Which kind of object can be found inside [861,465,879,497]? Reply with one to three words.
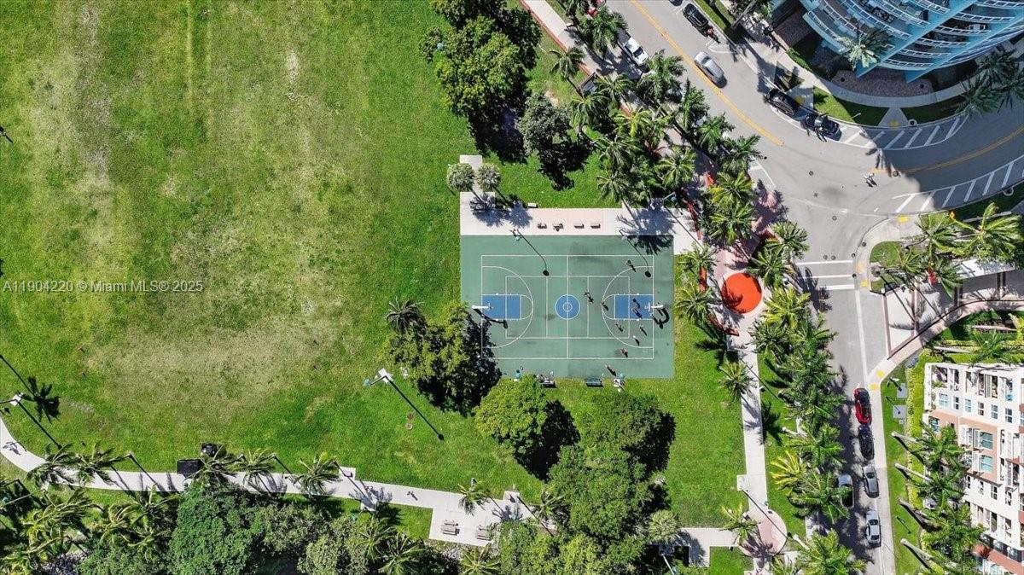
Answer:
car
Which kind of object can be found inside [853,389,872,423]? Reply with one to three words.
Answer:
car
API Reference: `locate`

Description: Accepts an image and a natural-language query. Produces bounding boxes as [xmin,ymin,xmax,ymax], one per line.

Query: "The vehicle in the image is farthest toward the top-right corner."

[803,113,842,140]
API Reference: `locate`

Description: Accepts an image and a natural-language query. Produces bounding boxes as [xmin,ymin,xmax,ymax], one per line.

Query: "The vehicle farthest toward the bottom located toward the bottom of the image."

[864,511,882,545]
